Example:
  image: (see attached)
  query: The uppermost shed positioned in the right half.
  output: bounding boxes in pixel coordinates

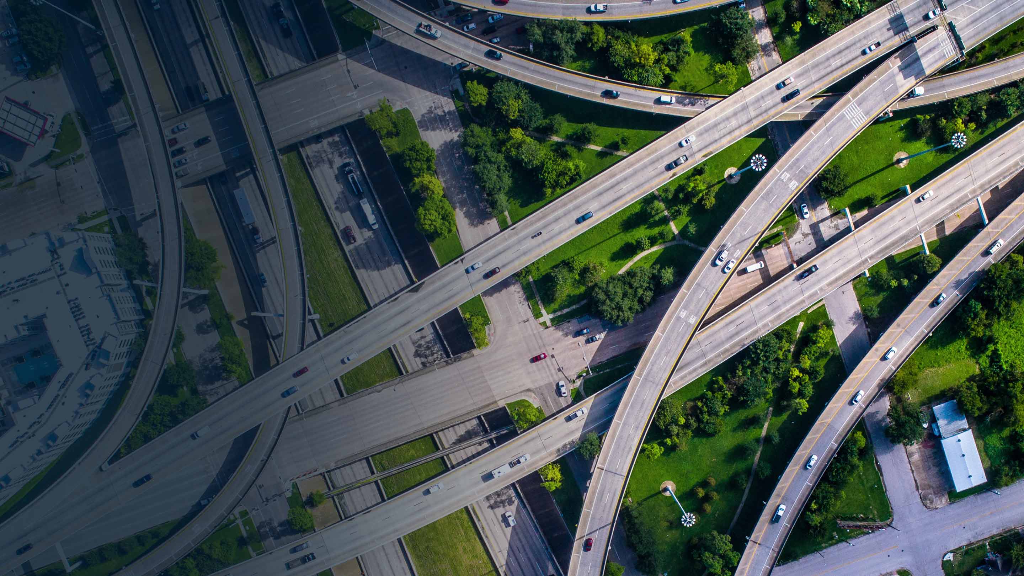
[929,399,968,438]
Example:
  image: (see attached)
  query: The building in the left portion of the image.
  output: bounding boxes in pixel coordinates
[0,231,141,490]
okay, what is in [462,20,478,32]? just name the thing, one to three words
vehicle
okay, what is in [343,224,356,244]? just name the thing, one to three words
vehicle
